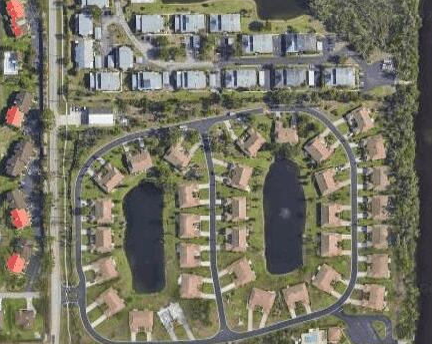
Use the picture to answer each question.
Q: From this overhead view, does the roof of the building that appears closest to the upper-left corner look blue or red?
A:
red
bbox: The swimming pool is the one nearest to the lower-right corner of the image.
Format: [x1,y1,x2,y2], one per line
[301,330,327,344]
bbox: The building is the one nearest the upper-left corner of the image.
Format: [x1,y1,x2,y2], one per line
[6,0,27,38]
